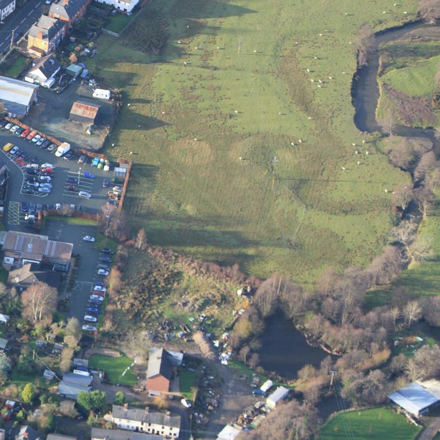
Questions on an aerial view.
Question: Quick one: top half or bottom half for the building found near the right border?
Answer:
bottom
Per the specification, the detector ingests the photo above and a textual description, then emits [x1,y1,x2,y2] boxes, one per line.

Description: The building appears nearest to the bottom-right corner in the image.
[389,381,440,425]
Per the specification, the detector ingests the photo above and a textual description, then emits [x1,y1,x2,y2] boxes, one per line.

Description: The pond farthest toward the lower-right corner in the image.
[259,302,336,380]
